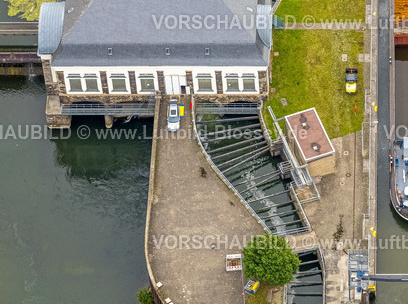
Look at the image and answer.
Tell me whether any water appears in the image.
Yes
